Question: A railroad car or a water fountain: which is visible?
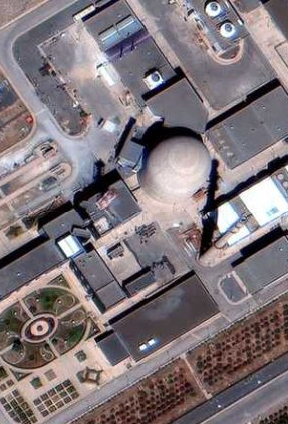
water fountain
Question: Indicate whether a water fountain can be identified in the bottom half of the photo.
Yes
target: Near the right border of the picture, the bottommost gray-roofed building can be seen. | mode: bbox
[227,235,288,300]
